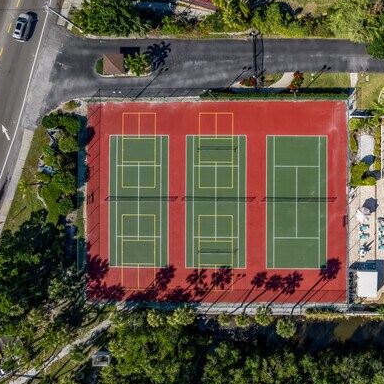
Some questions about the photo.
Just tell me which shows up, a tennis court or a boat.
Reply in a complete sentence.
The one in the frame is a tennis court.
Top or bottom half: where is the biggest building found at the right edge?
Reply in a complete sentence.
The bottom half of the photo is where the biggest building found at the right edge is.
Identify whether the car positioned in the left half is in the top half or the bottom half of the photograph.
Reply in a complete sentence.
The top half of the photo is where the car positioned in the left half is.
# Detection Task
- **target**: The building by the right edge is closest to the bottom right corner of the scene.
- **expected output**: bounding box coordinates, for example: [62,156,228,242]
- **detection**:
[356,269,378,298]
